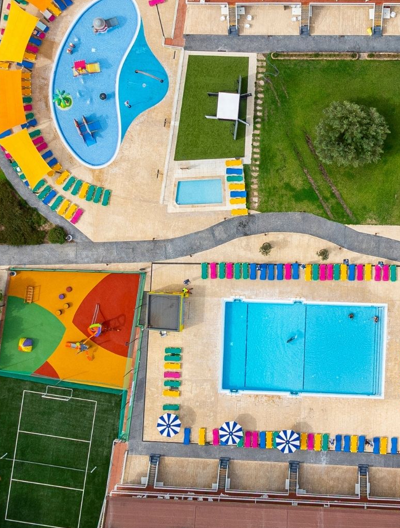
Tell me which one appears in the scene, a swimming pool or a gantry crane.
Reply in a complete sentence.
This aerial view contains a swimming pool.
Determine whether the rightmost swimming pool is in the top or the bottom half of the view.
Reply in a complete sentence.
The rightmost swimming pool sits in the bottom half of the picture.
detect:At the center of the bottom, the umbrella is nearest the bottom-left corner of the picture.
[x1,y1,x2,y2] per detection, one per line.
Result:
[157,413,181,436]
